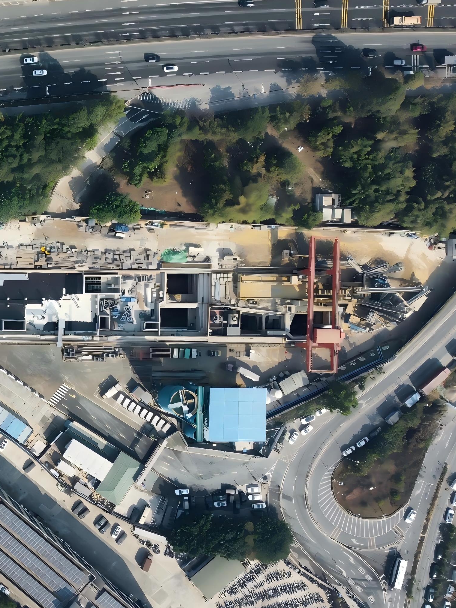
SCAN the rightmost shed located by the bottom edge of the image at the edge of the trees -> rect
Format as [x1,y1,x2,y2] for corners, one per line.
[193,551,254,601]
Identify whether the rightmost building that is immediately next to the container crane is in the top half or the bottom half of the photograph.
top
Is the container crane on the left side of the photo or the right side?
right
